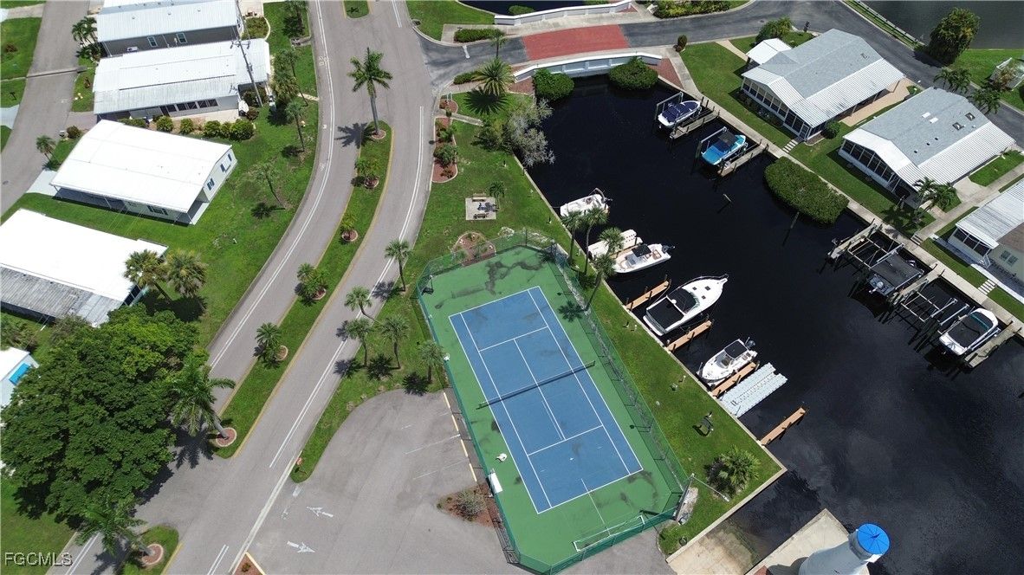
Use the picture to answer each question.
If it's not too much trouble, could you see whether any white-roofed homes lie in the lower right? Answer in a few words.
No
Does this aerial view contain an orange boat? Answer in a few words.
No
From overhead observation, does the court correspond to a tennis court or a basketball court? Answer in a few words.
tennis court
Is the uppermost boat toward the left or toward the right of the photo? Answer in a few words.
right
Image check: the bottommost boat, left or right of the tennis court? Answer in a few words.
to the right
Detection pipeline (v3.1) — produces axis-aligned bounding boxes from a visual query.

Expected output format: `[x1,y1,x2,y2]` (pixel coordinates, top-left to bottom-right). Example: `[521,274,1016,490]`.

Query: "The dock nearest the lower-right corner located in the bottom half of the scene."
[958,319,1024,373]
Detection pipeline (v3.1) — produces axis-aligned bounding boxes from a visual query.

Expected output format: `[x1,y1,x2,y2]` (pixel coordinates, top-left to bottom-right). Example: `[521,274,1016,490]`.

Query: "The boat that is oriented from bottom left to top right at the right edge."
[936,312,993,358]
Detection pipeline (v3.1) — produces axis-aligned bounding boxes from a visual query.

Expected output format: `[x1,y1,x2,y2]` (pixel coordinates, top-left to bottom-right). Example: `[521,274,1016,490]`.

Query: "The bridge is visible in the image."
[494,0,662,79]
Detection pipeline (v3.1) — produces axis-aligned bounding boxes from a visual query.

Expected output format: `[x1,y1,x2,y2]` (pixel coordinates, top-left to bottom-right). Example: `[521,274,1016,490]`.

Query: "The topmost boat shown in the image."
[657,100,700,129]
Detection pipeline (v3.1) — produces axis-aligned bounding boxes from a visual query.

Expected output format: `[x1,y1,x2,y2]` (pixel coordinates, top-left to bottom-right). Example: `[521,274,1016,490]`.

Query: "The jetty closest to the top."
[668,108,720,145]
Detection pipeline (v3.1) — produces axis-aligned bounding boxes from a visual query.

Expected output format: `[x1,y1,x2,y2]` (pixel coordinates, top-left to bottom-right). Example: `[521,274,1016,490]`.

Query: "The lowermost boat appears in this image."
[701,342,759,383]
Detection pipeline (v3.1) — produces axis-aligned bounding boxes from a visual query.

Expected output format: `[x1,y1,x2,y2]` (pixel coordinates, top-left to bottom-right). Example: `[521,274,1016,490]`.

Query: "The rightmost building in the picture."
[948,175,1024,278]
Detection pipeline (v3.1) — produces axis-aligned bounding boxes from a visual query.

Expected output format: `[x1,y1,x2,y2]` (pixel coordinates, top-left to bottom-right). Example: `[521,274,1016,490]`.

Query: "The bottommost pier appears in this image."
[758,404,809,445]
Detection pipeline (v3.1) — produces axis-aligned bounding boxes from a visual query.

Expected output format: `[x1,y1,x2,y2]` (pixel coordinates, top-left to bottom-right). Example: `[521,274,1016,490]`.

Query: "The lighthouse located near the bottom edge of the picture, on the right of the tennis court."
[795,523,890,575]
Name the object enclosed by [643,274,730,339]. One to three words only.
boat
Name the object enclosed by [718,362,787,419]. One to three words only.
pier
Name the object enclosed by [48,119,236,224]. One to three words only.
house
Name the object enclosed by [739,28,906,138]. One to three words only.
house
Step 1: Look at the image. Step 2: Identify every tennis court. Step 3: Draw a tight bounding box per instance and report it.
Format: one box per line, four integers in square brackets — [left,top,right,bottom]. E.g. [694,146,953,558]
[418,248,684,565]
